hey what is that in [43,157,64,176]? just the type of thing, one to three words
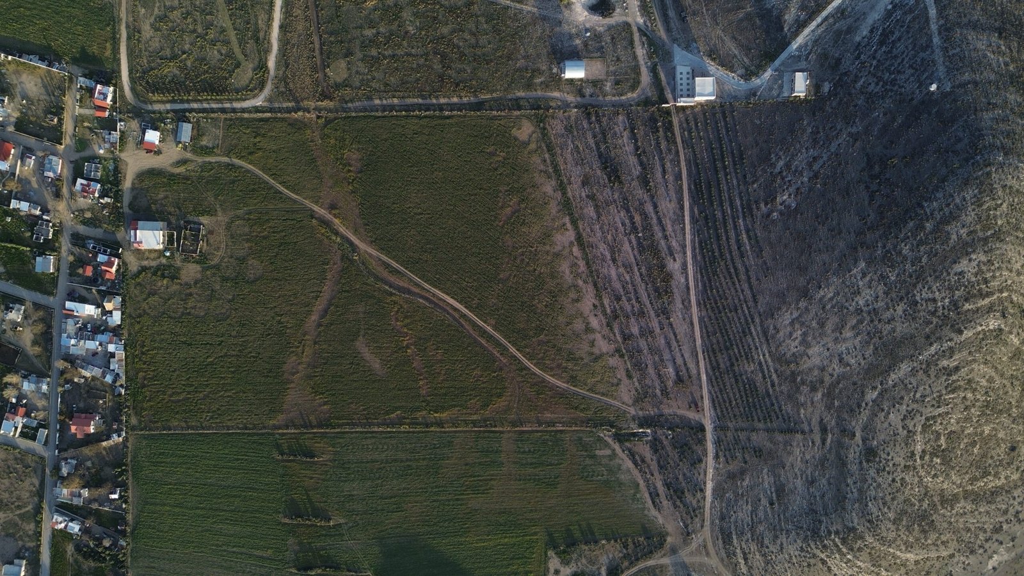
house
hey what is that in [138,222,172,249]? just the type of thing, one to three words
building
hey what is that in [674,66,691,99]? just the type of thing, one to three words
building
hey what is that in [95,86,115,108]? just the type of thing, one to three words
house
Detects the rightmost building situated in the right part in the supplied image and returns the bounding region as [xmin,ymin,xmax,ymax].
[781,73,808,95]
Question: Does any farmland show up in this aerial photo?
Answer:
Yes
